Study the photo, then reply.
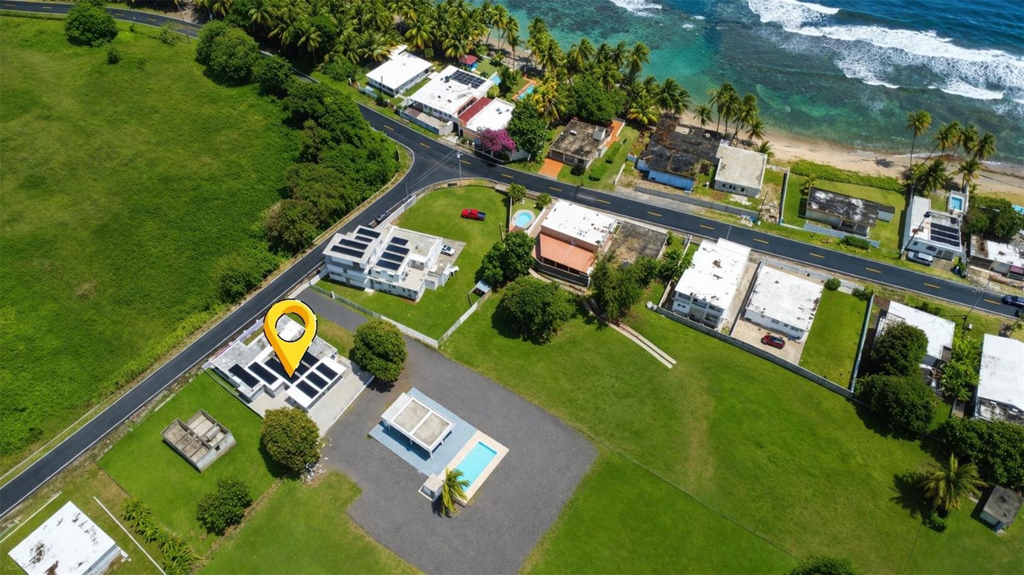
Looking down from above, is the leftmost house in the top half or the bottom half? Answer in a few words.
bottom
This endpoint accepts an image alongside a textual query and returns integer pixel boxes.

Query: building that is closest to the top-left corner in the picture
[365,46,433,100]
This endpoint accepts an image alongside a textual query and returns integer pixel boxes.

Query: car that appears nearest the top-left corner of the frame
[371,209,392,224]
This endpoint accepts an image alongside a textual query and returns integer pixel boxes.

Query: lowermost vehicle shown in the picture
[761,334,789,349]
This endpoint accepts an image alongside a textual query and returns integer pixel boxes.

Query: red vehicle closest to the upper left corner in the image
[460,208,487,221]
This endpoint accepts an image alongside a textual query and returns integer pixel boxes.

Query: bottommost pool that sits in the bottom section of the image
[437,428,509,505]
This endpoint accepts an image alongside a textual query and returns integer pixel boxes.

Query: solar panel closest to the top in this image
[450,70,486,88]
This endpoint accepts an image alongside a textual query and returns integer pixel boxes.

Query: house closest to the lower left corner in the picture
[8,501,129,575]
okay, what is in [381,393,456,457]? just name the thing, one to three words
building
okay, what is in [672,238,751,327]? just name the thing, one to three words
house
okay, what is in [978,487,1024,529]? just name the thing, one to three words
shed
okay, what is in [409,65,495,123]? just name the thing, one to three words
house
